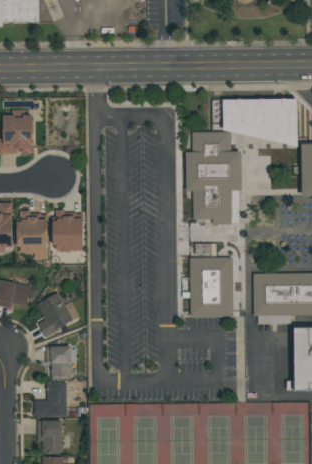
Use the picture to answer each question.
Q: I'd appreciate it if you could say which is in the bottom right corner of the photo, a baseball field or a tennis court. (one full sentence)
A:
You can see a tennis court in the bottom right corner of the photo.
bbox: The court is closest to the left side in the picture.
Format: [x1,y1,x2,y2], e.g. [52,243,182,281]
[90,404,126,464]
